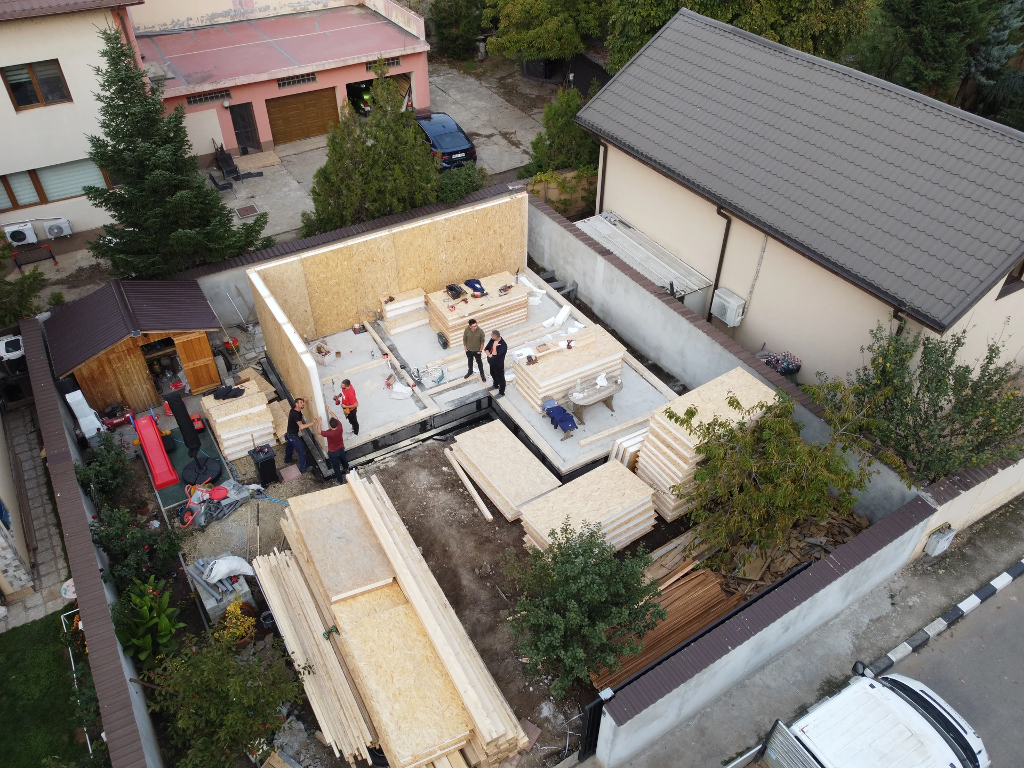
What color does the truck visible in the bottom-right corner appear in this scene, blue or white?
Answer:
white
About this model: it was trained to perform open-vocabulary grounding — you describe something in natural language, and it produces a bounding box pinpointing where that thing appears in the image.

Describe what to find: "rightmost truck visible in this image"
[741,660,981,768]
